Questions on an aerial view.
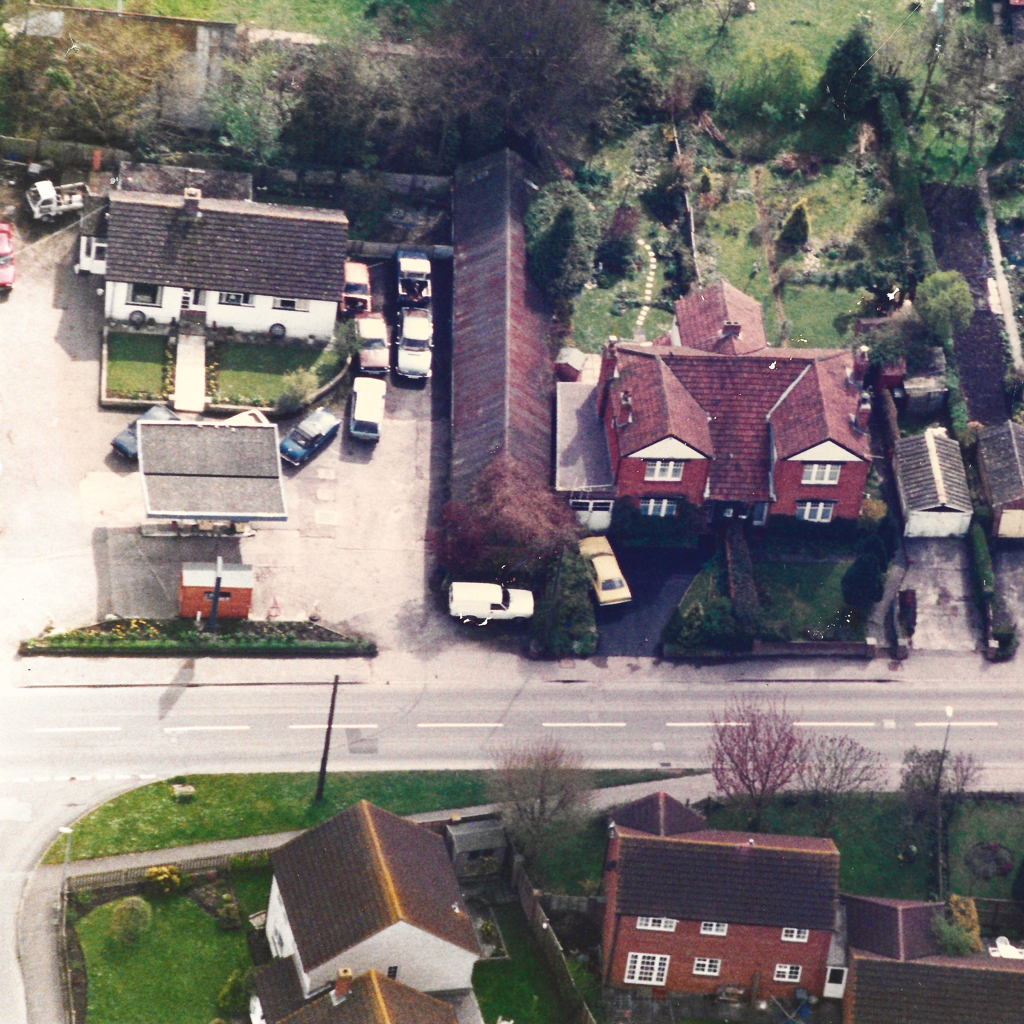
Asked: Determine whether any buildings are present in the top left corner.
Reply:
Yes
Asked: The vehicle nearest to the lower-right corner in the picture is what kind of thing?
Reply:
automobile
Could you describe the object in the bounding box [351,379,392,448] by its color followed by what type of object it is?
white car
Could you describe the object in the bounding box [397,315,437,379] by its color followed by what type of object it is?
white car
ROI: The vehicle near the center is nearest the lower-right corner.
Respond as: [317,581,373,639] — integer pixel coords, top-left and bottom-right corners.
[571,533,632,602]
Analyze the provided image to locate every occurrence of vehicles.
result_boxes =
[397,315,437,379]
[105,412,182,465]
[343,256,379,313]
[280,410,346,470]
[351,379,392,448]
[571,533,632,602]
[27,178,89,224]
[448,585,537,630]
[357,313,396,374]
[397,249,436,308]
[230,398,275,421]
